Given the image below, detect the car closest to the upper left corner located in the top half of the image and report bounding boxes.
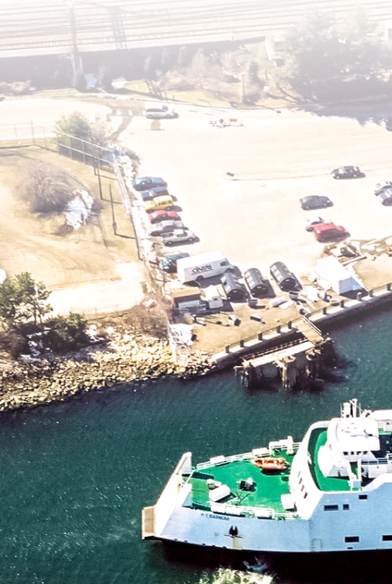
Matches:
[143,104,177,120]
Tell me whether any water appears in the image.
Yes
